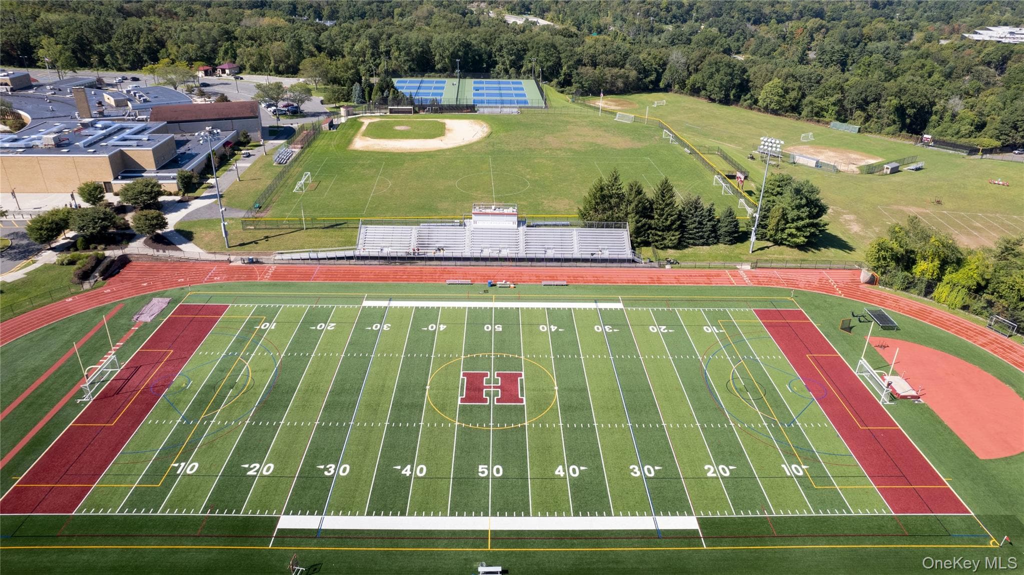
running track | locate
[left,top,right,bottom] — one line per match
[0,262,1024,575]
